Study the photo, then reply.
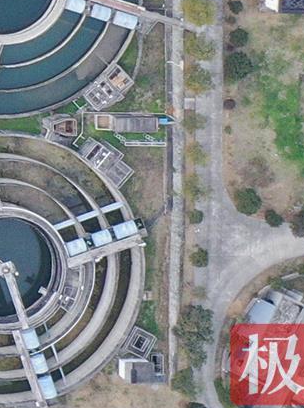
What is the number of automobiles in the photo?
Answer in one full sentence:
I count no automobiles.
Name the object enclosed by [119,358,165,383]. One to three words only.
shed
